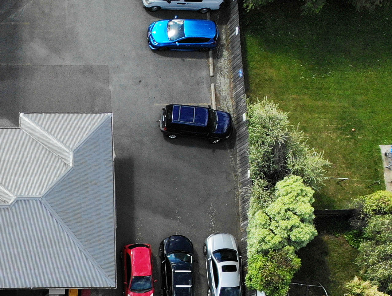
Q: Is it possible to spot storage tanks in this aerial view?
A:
No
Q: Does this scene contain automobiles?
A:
Yes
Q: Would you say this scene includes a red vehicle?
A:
Yes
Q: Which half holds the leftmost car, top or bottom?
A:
bottom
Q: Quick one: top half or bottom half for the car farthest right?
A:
bottom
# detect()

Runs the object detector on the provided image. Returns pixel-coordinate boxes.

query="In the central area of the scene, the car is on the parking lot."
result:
[163,101,237,141]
